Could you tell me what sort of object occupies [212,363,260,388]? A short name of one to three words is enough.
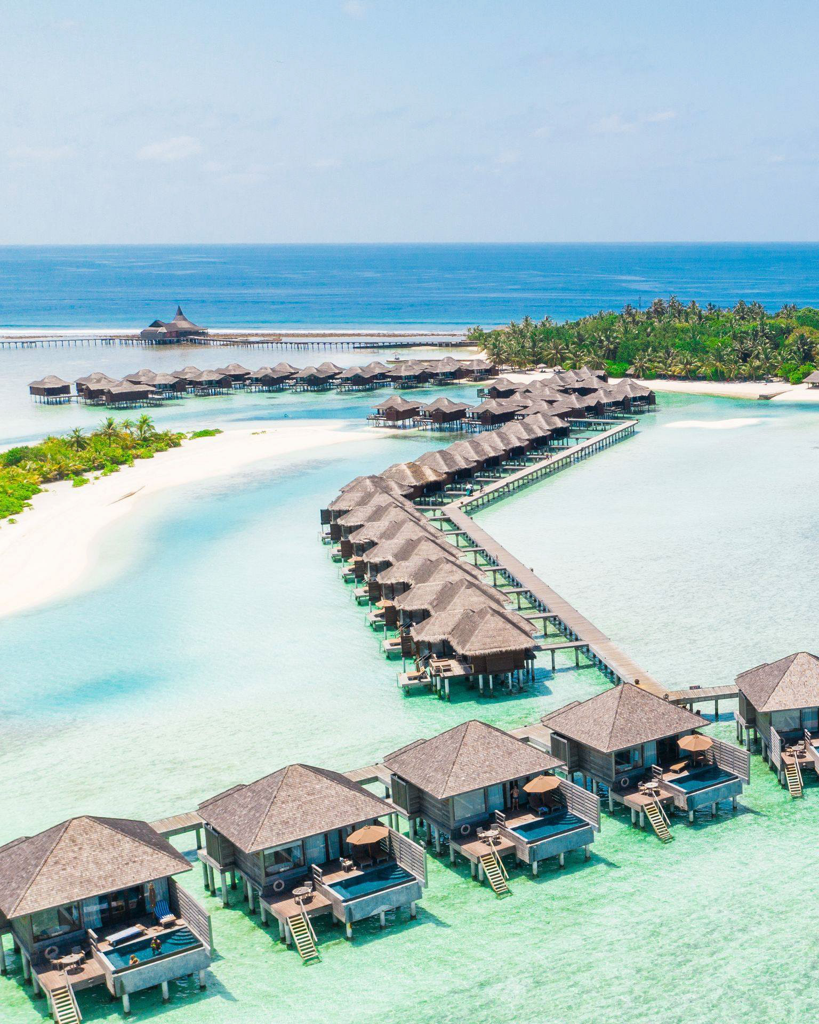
house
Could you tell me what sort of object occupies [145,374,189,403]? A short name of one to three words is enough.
house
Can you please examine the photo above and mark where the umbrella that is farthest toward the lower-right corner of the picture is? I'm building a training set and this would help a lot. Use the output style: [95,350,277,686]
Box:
[674,732,713,752]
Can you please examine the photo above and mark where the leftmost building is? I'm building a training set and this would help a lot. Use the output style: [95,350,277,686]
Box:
[31,375,86,403]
